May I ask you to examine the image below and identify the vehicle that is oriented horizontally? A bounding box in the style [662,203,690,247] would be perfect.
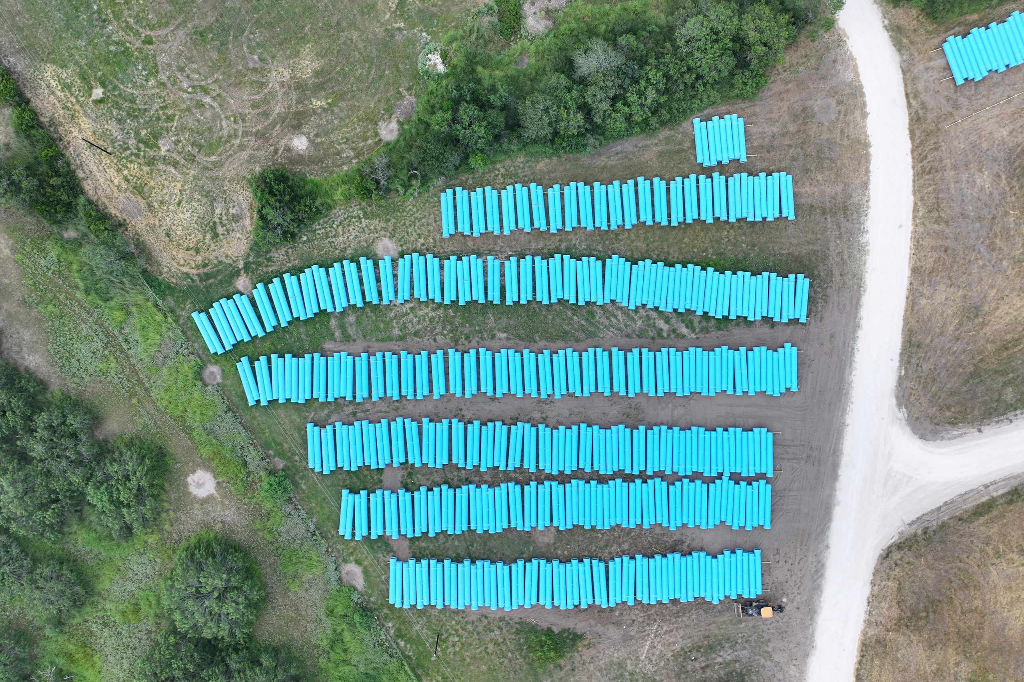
[733,599,787,620]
